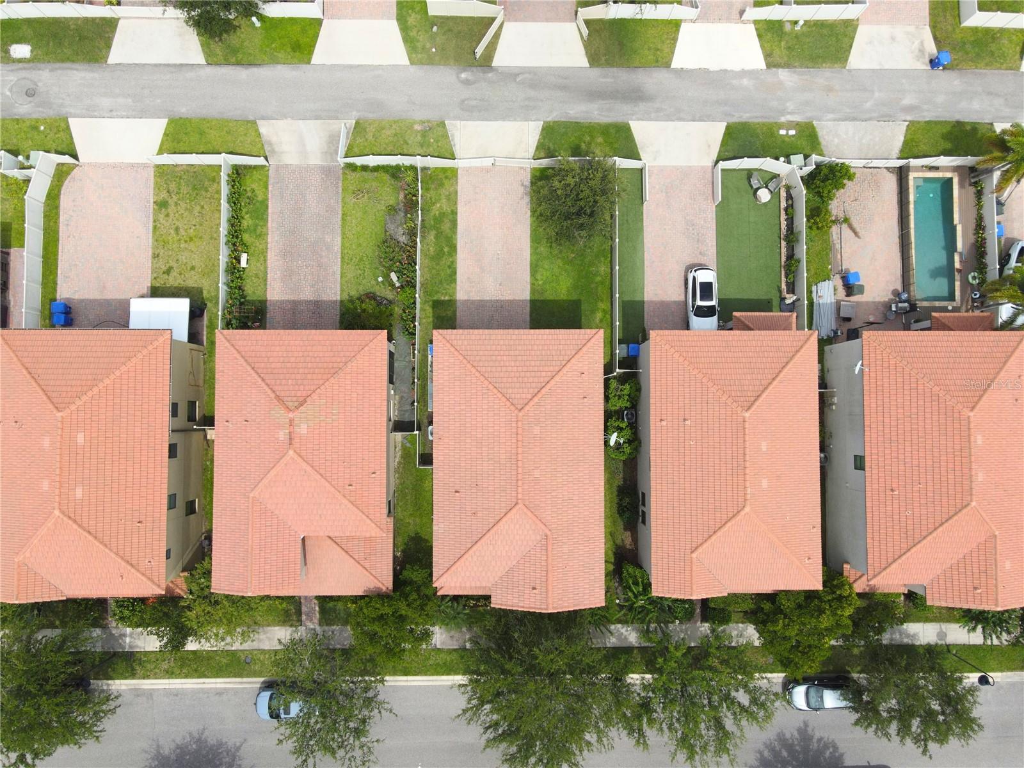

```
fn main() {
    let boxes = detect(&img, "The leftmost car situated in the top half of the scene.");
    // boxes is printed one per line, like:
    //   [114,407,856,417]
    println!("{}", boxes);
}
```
[689,270,723,331]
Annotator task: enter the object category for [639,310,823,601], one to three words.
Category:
house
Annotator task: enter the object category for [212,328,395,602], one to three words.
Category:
house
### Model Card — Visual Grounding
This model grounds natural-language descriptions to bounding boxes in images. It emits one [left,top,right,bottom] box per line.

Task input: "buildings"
[0,327,213,605]
[825,312,1024,614]
[639,310,823,601]
[212,328,395,602]
[431,327,606,614]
